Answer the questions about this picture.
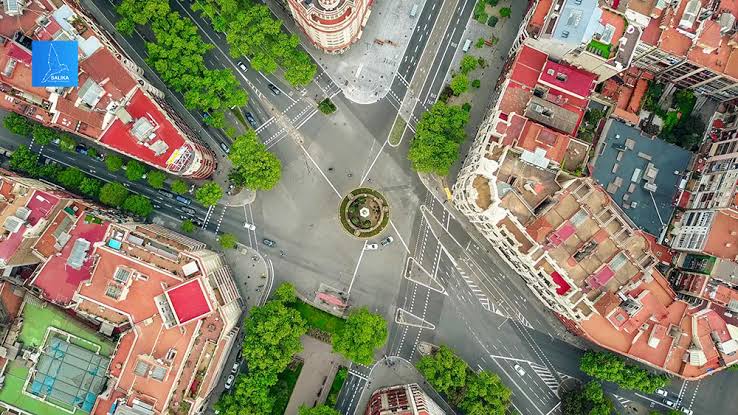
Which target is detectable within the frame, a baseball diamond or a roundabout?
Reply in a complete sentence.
I can see a roundabout in this picture.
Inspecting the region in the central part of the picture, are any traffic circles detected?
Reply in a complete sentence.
Yes, a traffic circle shows up in the central part of the picture.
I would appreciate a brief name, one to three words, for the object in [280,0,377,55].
building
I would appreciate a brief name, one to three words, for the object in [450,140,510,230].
building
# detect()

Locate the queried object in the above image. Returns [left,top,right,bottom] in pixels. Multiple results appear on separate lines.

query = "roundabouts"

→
[339,187,390,238]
